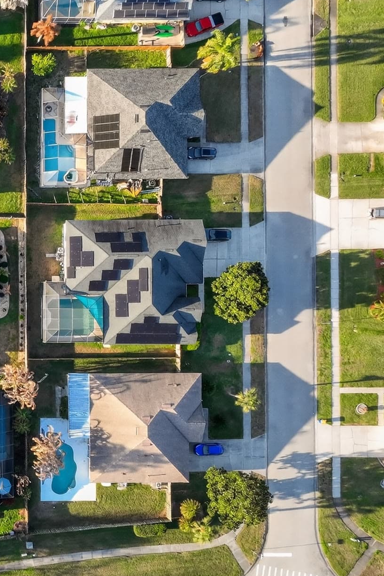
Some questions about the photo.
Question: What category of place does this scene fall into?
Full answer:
This looks like a residential area.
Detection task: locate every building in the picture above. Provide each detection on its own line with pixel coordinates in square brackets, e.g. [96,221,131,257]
[64,220,205,344]
[94,0,191,22]
[86,67,208,178]
[88,373,205,483]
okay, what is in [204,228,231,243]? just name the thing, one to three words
car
